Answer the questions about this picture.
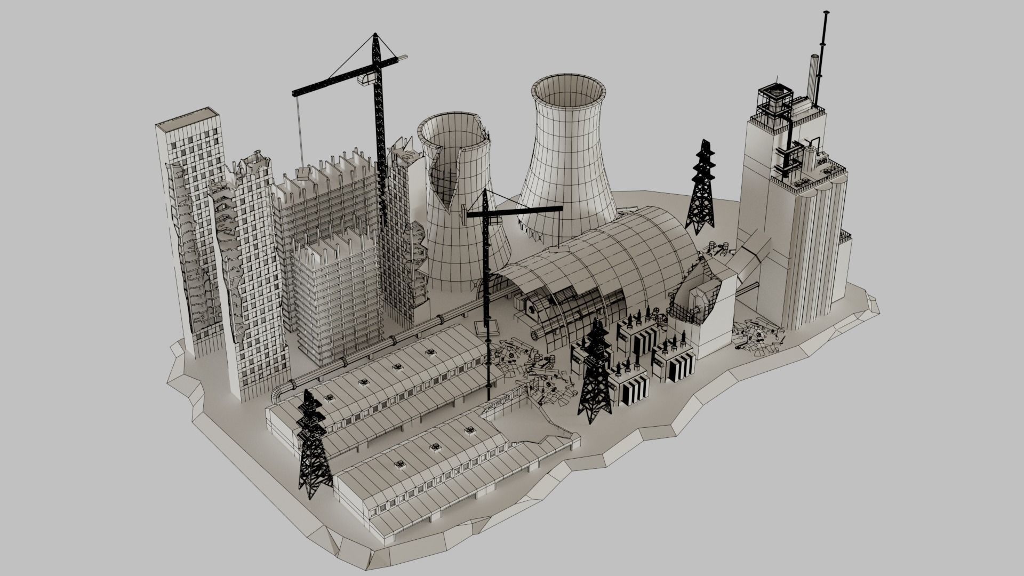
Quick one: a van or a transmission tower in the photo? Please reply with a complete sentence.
There is a transmission tower in the scene.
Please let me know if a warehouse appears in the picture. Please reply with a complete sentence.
Yes, the image includes a warehouse.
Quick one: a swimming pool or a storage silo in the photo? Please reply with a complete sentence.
It is a storage silo that can be seen here.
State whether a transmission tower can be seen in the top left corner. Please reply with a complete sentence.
No, the scene shows no transmission tower in the top left corner.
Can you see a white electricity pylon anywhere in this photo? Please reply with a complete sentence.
No, there's no white electricity pylon here.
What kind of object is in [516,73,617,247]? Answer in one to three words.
cooling tower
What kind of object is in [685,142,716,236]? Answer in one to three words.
pylon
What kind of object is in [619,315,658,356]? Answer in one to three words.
storage tank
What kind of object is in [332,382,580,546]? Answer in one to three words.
warehouse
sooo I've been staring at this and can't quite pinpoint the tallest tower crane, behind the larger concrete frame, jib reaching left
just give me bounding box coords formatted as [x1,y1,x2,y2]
[293,32,413,223]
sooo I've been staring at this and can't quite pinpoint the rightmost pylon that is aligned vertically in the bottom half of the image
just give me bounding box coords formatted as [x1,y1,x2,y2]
[577,321,612,425]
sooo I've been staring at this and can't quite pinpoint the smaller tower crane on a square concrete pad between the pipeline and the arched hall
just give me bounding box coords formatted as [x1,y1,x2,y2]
[458,187,563,326]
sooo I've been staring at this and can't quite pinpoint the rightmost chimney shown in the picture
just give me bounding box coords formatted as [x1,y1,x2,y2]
[805,52,819,110]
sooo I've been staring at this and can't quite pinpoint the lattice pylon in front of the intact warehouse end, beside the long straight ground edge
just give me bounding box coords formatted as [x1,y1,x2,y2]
[295,392,333,500]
